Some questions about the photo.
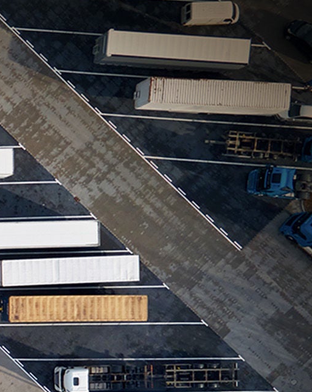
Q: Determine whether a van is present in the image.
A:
Yes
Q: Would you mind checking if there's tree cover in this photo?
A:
No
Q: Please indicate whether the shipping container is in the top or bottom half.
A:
bottom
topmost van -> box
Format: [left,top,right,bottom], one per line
[179,1,235,30]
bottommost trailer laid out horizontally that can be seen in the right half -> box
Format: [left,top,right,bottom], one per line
[152,364,238,388]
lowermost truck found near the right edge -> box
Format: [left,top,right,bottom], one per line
[274,211,312,261]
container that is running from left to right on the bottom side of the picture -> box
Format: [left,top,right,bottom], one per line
[0,295,148,322]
